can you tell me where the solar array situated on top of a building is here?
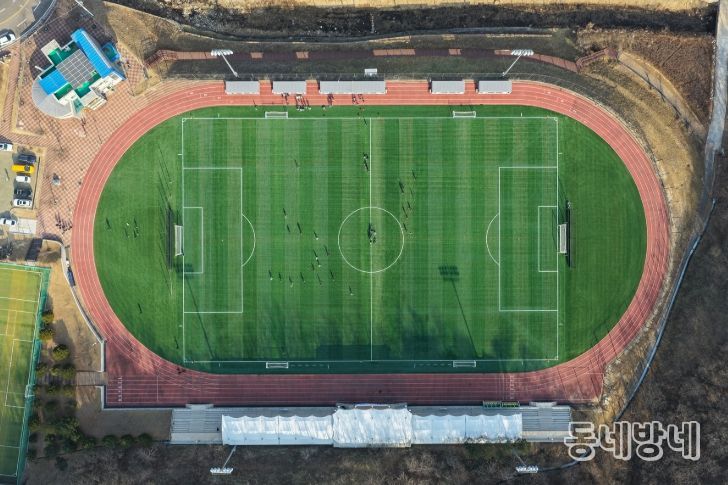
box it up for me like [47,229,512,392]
[55,50,97,89]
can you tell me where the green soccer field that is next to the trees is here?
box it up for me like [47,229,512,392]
[95,105,645,374]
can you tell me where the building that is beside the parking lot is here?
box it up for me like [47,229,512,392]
[32,28,129,120]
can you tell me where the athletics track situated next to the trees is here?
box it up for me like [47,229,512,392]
[70,75,670,408]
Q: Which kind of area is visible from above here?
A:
sports ground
